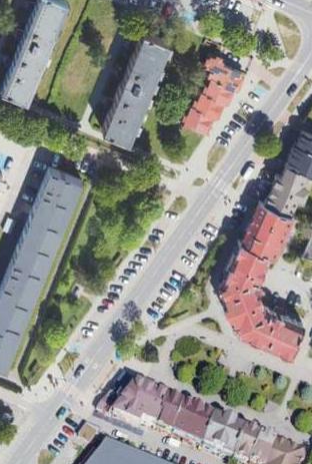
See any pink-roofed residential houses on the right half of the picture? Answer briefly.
Yes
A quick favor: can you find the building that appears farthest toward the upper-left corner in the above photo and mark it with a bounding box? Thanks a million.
[0,0,69,109]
